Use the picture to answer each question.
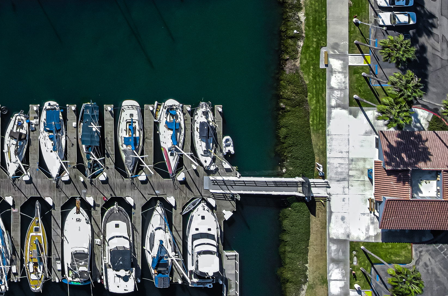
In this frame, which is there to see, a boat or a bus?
boat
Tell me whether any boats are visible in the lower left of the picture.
Yes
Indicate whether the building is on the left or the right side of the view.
right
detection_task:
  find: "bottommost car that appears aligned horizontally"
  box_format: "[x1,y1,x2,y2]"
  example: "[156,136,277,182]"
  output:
[376,11,416,26]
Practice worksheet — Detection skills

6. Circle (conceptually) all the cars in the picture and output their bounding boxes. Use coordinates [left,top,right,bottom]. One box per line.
[375,0,413,8]
[376,11,416,26]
